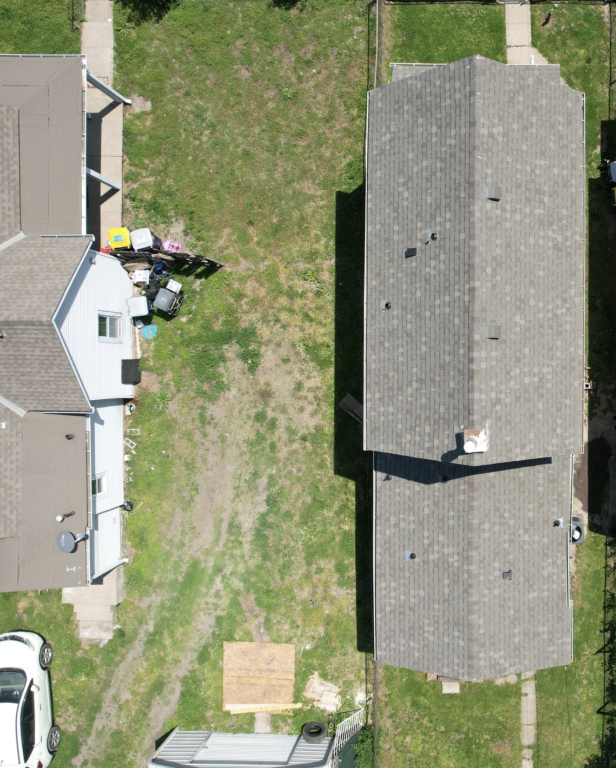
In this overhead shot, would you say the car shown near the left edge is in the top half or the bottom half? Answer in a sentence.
You can find the car shown near the left edge in the bottom half.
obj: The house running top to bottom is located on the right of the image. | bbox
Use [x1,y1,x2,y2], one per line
[360,44,589,680]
